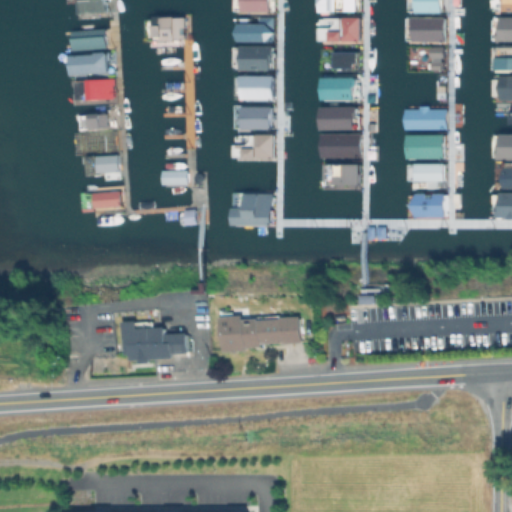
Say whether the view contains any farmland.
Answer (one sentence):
No, farmland can't be seen anywhere here.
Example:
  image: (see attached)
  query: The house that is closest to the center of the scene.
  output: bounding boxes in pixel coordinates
[228,192,276,228]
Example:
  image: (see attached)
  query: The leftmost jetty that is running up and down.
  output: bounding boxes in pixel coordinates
[112,0,132,212]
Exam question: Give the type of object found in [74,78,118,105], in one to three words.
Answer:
house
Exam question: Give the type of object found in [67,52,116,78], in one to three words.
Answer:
house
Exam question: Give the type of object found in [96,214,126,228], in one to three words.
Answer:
boat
